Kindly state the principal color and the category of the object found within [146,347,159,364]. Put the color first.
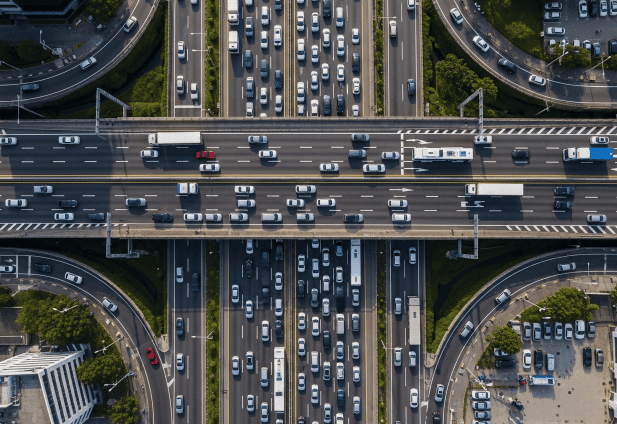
red vehicle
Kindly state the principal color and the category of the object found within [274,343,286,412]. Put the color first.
white vehicle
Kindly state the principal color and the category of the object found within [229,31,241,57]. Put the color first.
white vehicle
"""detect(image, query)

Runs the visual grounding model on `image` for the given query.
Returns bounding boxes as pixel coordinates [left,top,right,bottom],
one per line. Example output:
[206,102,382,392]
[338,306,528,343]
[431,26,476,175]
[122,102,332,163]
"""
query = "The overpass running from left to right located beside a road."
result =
[0,117,617,240]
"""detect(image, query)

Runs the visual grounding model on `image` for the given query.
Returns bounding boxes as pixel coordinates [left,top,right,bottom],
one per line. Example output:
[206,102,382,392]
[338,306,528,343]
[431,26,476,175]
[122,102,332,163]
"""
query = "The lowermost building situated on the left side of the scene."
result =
[0,350,96,424]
